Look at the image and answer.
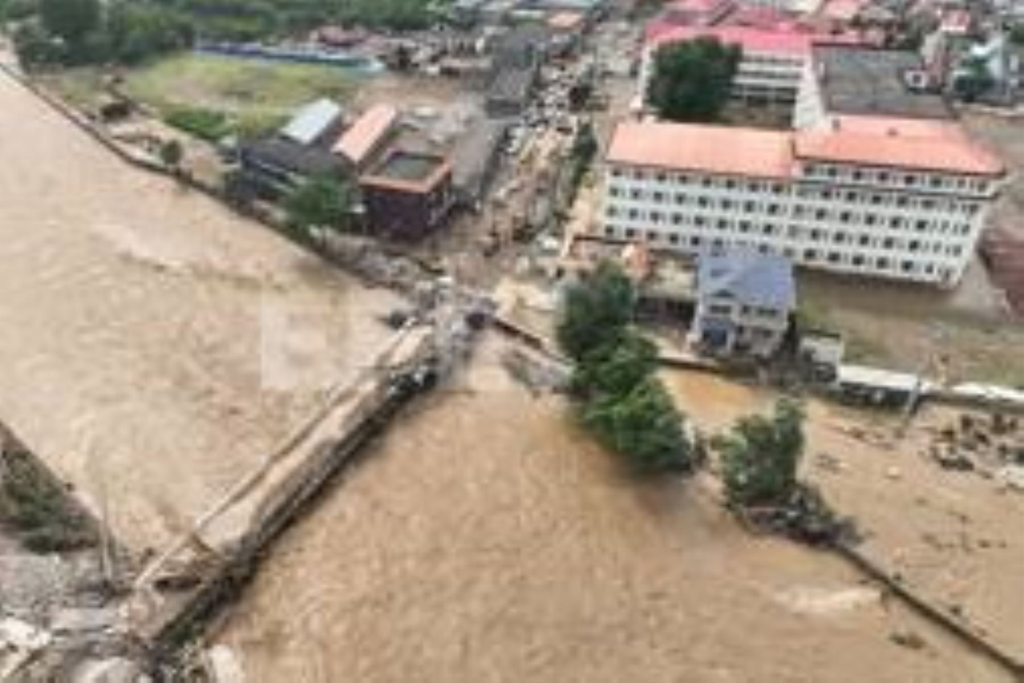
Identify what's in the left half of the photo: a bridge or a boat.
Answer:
bridge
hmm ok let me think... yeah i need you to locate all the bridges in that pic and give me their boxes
[99,315,468,661]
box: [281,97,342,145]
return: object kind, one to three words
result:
shed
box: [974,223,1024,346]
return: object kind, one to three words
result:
building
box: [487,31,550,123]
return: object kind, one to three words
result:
building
